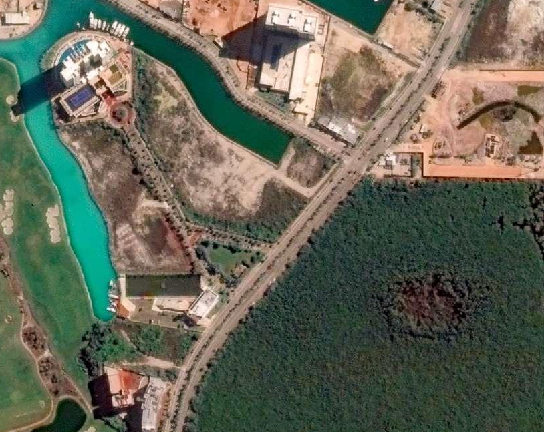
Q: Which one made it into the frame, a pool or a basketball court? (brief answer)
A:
pool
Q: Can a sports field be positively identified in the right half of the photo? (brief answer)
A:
No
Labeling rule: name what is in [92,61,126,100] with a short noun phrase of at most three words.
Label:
building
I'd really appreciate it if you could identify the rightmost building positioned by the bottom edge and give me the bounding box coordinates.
[142,379,169,431]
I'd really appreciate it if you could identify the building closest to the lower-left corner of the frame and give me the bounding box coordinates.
[105,367,148,409]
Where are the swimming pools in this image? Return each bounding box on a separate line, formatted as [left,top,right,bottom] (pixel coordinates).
[270,47,281,70]
[53,36,105,68]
